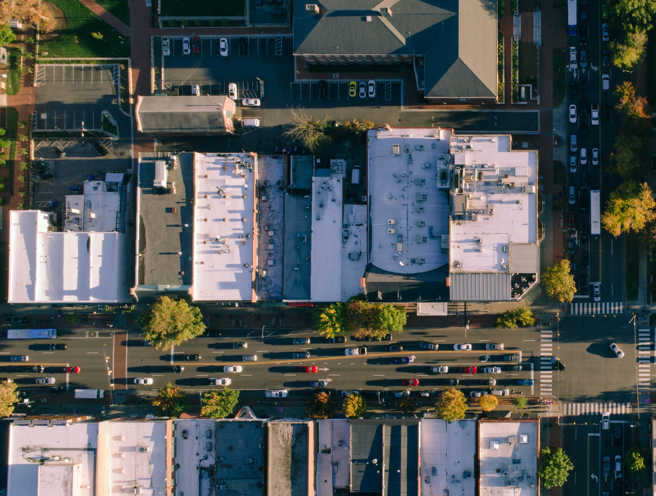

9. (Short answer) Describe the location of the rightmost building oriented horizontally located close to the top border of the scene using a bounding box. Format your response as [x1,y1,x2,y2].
[294,0,500,103]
